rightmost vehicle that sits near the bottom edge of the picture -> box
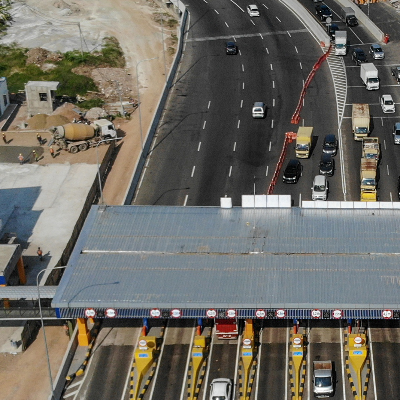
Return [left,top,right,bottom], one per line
[311,362,338,399]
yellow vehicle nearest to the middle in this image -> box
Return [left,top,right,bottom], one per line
[293,126,314,160]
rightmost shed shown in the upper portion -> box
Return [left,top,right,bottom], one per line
[21,73,70,111]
